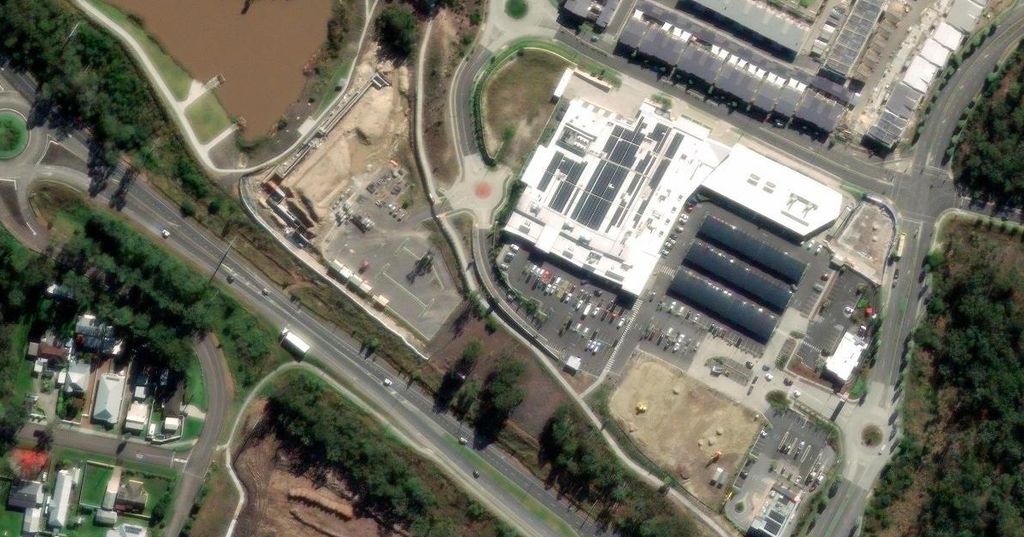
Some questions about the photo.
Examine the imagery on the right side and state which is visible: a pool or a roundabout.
roundabout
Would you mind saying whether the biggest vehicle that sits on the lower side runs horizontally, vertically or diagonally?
diagonally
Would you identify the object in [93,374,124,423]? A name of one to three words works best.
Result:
house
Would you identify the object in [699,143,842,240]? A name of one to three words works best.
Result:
building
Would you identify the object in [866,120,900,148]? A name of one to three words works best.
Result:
house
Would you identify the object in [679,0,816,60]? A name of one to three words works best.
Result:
building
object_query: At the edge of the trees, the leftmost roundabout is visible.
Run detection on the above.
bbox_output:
[0,90,45,179]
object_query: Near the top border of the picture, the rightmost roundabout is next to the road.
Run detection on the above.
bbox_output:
[484,0,549,39]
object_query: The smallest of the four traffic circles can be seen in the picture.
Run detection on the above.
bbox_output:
[463,170,503,209]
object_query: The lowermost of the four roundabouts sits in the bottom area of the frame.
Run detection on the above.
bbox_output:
[844,408,900,464]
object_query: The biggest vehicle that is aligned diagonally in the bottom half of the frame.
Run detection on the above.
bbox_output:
[283,333,311,355]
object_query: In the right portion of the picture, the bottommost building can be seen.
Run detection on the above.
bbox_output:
[743,487,801,537]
